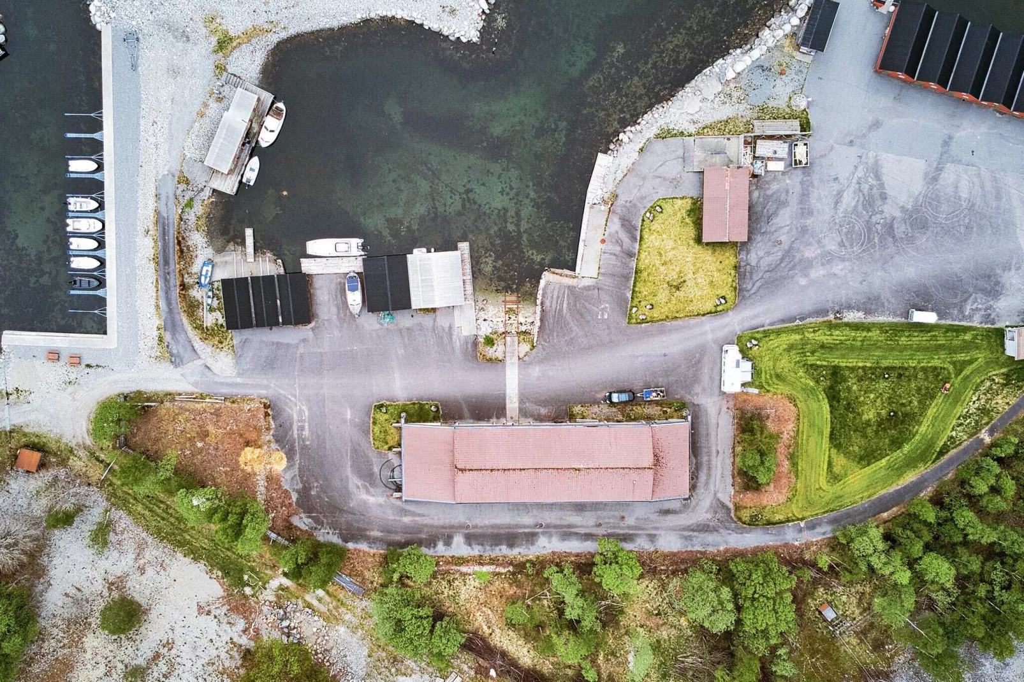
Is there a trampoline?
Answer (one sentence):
No, I find no trampoline anywhere in the image.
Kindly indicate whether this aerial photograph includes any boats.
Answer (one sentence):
Yes, there's a boat here.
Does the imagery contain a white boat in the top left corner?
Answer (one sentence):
Yes, there is a white boat in the top left corner.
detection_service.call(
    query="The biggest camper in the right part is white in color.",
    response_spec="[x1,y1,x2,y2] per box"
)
[720,342,754,391]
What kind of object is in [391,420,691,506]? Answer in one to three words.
building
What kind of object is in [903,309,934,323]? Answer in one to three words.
camper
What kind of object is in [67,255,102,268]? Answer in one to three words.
boat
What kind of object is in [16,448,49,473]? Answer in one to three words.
shed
